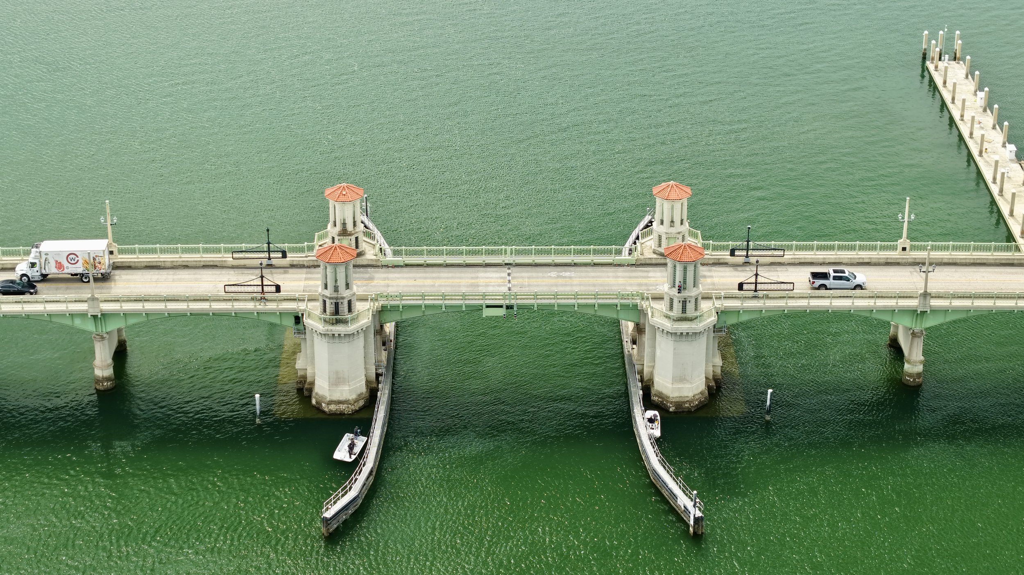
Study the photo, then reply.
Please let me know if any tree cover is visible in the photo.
No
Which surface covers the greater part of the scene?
water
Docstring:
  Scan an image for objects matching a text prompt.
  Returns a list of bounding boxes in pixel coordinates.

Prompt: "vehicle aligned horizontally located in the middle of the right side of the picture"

[809,269,871,292]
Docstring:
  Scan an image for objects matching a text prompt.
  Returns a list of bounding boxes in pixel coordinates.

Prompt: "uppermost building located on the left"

[325,182,367,255]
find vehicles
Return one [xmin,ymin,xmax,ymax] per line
[809,269,871,292]
[0,280,38,297]
[16,240,117,283]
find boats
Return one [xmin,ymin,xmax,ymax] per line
[645,409,665,442]
[332,429,367,467]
